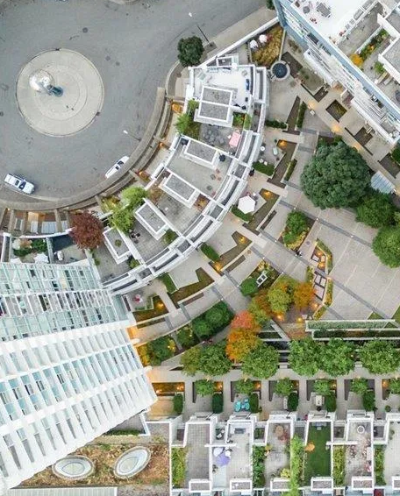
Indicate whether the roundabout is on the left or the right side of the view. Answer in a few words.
left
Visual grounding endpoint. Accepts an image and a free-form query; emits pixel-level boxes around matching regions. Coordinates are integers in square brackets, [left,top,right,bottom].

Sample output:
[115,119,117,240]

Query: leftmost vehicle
[3,172,36,194]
